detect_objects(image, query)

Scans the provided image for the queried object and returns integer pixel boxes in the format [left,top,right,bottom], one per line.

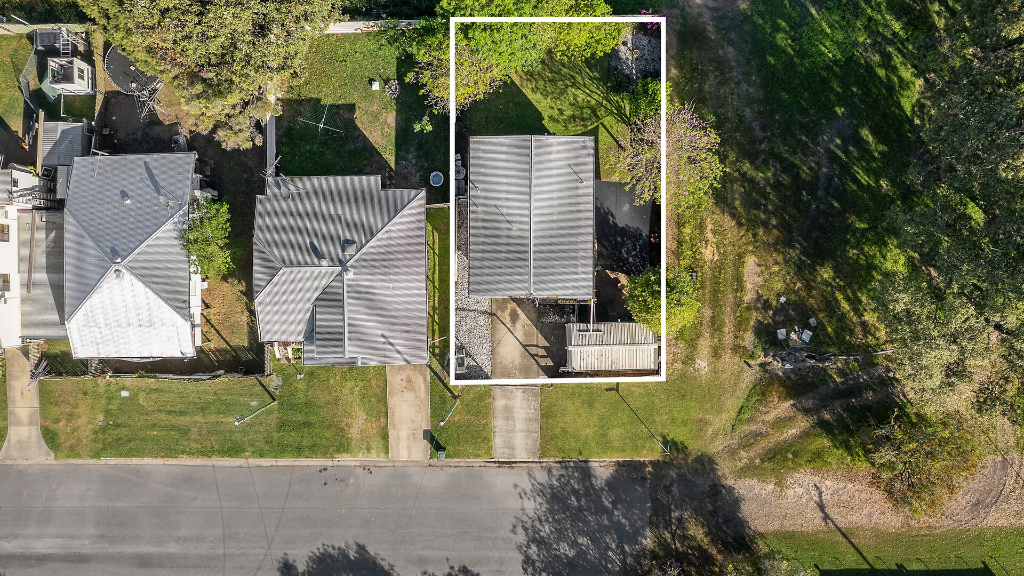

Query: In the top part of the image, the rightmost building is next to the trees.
[466,134,597,307]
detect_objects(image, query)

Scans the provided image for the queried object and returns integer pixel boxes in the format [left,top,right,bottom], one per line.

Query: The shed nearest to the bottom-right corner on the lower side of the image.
[565,321,660,373]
